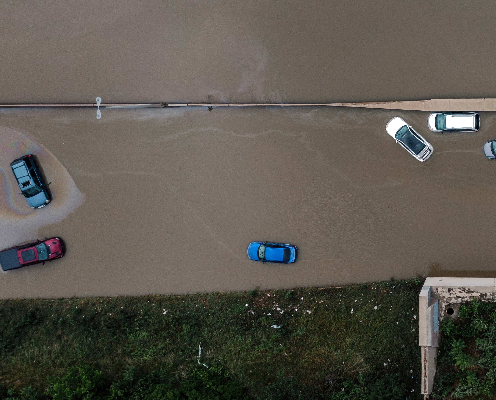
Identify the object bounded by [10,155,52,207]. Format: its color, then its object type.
blue car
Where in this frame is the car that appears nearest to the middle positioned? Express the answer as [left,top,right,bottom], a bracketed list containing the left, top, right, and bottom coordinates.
[249,241,298,266]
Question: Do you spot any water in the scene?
Yes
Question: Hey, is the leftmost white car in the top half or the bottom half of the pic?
top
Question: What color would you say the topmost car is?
white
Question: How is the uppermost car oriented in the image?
from side to side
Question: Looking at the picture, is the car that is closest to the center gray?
No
